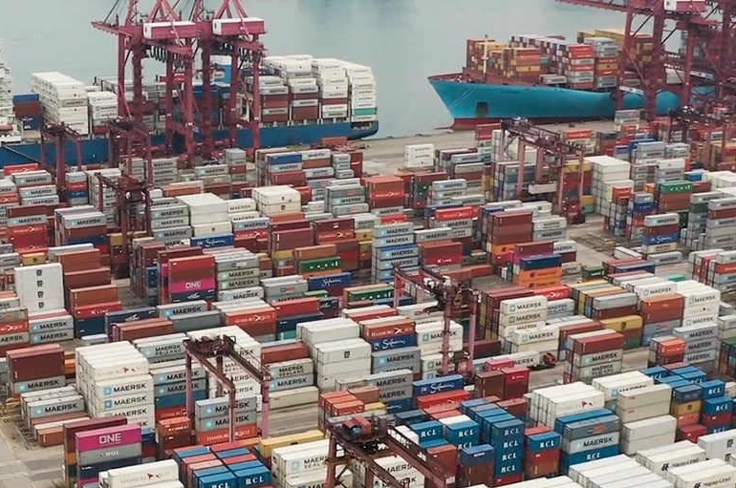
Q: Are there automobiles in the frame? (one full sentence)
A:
No, the photo shows no automobile.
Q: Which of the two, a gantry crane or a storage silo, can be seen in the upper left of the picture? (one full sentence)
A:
It is a gantry crane that can be seen in the upper left of the picture.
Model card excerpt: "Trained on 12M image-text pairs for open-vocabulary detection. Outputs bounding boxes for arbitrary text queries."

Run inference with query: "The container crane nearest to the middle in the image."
[382,262,491,370]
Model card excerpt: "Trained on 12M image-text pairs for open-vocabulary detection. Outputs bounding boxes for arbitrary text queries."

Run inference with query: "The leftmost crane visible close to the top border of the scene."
[118,0,206,169]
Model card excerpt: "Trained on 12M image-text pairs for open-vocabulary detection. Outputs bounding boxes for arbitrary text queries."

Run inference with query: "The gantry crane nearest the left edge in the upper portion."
[63,135,116,203]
